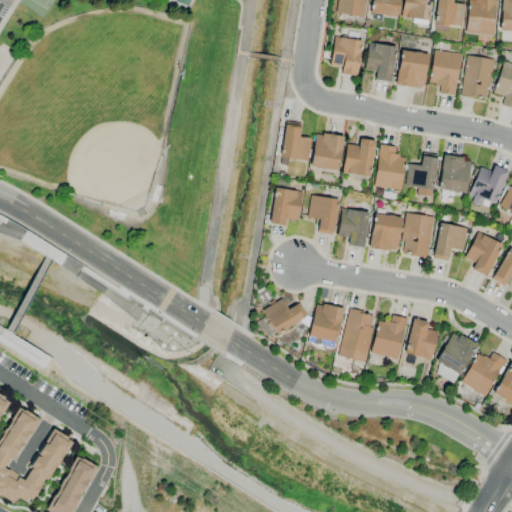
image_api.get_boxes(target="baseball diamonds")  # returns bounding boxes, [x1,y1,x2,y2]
[0,7,190,222]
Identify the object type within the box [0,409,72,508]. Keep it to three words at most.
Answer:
building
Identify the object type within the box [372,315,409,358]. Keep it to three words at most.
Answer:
house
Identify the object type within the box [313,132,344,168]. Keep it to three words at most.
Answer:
house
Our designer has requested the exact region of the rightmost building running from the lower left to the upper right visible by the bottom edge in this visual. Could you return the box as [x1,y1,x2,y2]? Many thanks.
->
[40,456,98,512]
